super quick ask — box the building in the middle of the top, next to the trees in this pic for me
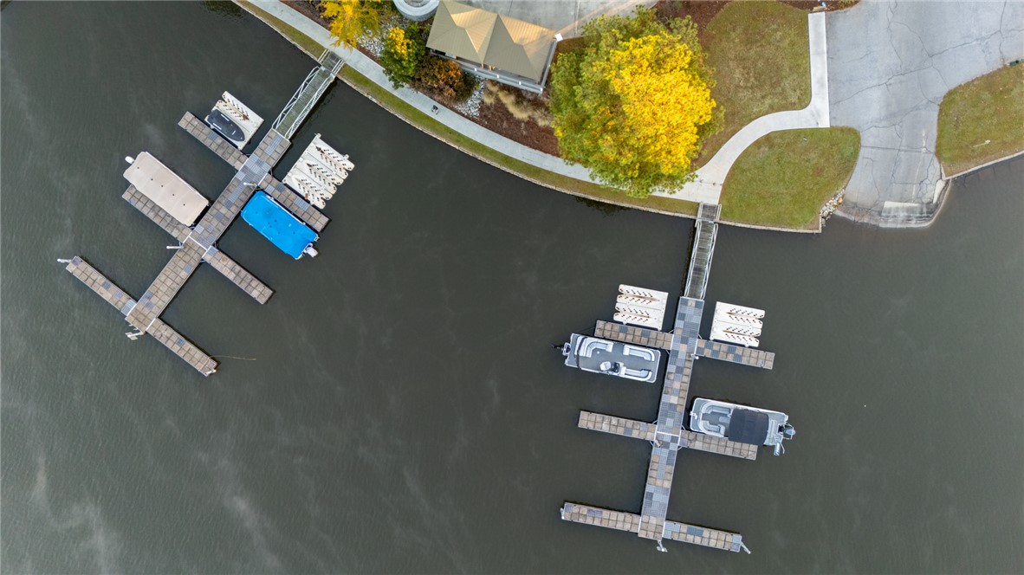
[428,1,556,90]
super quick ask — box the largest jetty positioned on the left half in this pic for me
[66,110,331,377]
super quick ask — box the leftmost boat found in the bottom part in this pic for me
[560,334,661,383]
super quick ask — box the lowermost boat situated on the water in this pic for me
[690,399,795,453]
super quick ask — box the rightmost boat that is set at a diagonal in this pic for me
[243,193,320,262]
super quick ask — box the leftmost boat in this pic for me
[127,153,212,226]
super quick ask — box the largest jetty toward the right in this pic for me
[563,296,776,551]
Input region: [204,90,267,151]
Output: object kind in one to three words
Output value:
pier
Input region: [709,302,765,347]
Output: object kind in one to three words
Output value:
pier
